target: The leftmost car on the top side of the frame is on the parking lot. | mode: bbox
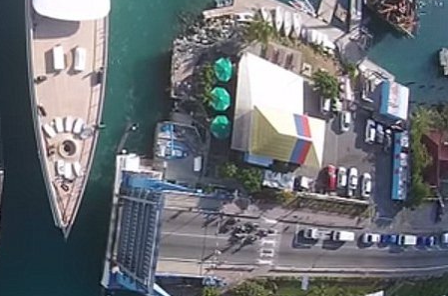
[320,96,332,112]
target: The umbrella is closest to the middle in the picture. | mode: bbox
[210,117,231,137]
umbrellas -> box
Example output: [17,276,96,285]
[212,59,233,81]
[209,88,231,110]
[210,117,231,137]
